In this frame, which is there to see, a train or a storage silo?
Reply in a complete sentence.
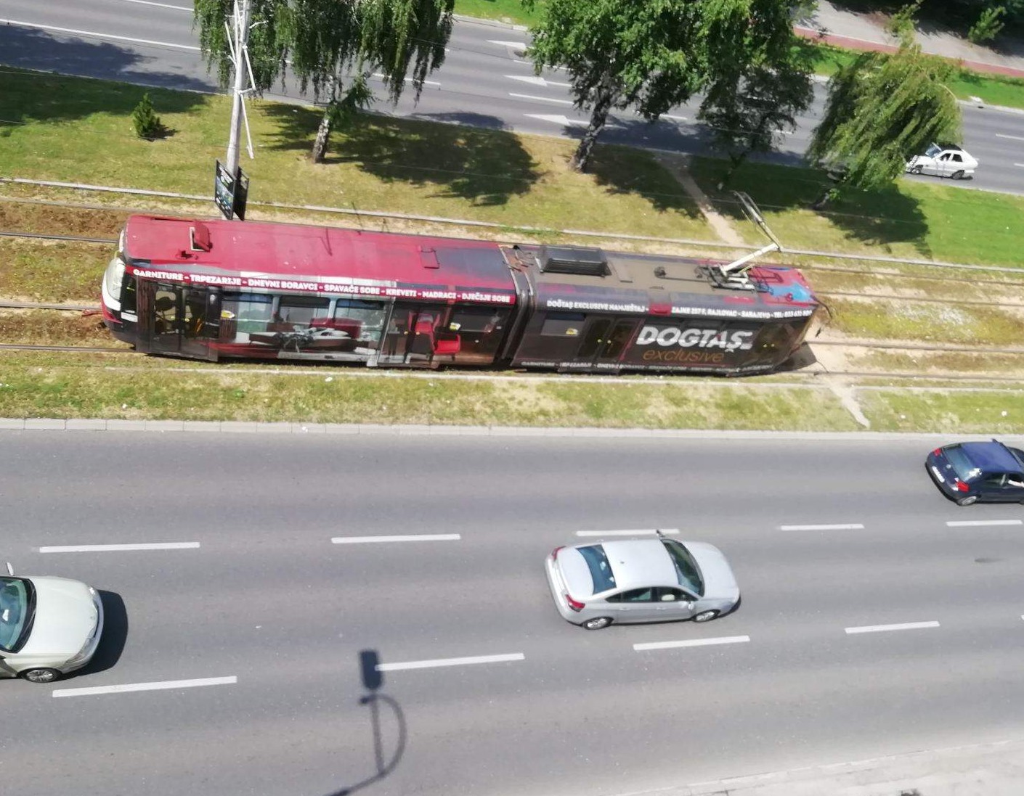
This aerial view contains a train.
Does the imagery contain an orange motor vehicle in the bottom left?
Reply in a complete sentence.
No, I can find no orange motor vehicle in the bottom left.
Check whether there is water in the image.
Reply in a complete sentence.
No, there's no water in this view.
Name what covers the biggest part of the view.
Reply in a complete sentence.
Most of the picture is covered by paved ground.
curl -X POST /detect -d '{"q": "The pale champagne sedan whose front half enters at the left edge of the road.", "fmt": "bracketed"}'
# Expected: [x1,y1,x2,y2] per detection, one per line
[0,562,104,683]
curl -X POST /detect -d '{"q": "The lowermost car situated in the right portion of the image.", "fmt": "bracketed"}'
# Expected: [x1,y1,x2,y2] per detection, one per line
[551,531,743,630]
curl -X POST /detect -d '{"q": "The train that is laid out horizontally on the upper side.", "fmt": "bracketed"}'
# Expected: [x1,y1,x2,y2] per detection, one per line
[80,192,821,375]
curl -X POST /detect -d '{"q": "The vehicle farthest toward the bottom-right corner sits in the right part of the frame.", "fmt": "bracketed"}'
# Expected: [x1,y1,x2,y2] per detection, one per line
[930,436,1024,504]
